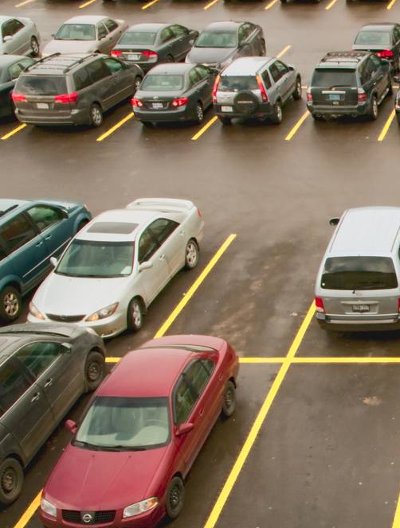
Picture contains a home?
No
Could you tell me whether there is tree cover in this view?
No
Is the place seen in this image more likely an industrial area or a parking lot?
parking lot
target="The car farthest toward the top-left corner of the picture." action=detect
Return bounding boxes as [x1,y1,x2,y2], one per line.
[0,16,43,61]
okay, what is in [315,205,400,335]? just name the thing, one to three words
car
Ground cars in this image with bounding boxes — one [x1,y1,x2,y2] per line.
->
[351,22,400,70]
[41,15,128,63]
[308,52,392,122]
[31,200,205,337]
[42,340,240,528]
[0,200,86,319]
[0,335,107,488]
[212,57,301,124]
[111,23,197,71]
[0,16,43,61]
[315,205,400,335]
[16,52,141,128]
[131,64,217,124]
[0,58,34,99]
[185,17,265,72]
